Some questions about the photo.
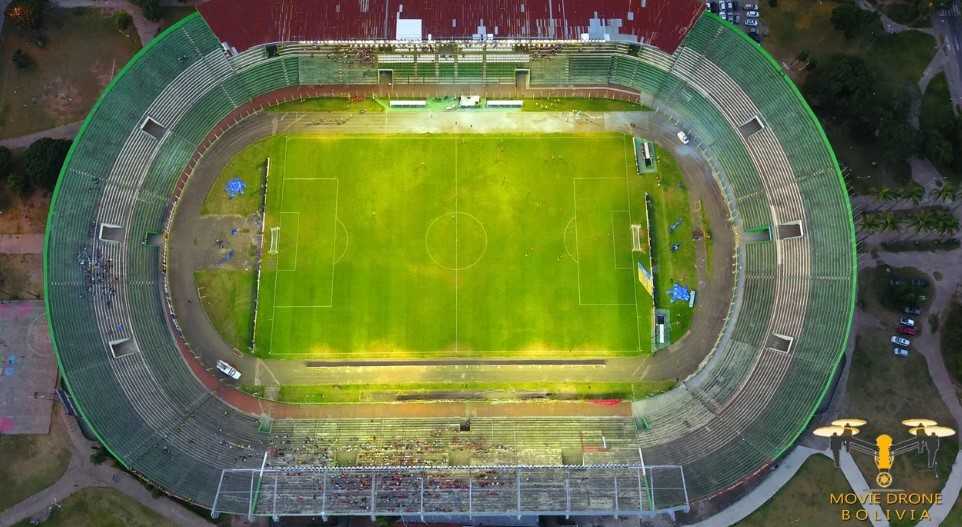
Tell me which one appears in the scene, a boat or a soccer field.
soccer field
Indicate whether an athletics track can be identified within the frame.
Yes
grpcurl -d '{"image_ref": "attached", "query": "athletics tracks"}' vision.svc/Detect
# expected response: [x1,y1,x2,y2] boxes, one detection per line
[162,88,743,420]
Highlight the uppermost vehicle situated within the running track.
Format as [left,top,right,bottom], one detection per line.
[675,127,692,145]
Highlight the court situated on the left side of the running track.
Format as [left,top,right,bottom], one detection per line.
[0,300,59,435]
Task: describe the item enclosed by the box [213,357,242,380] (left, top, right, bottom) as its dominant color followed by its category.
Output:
white truck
